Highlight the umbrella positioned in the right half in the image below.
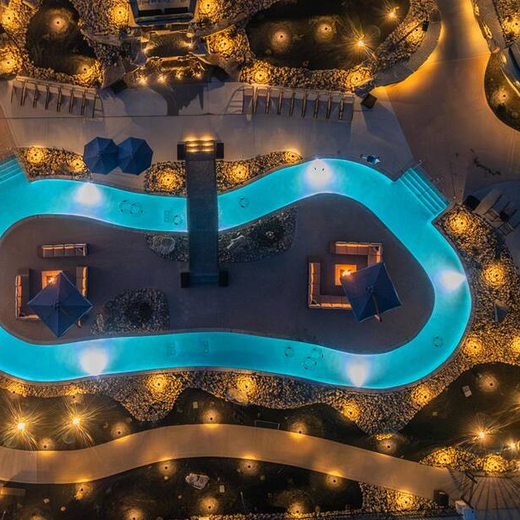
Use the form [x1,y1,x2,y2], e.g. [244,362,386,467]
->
[342,263,402,331]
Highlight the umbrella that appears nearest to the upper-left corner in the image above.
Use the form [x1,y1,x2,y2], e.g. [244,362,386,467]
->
[81,136,118,178]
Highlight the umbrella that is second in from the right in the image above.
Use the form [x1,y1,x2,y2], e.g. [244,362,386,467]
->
[115,134,158,177]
